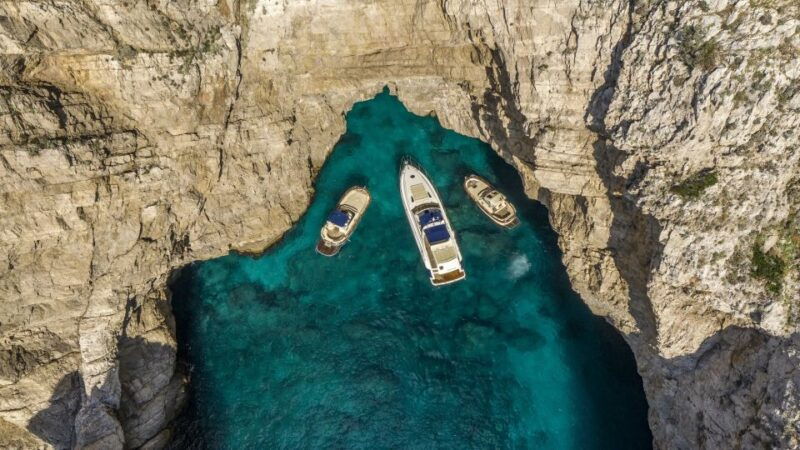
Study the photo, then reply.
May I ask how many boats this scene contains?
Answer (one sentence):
The number of boats here is 3.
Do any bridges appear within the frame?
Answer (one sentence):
No, I find no bridge anywhere in the image.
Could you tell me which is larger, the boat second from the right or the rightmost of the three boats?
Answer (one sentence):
The boat second from the right is larger than the rightmost of the three boats.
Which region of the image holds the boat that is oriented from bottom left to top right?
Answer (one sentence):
The boat that is oriented from bottom left to top right is in the center part of the image.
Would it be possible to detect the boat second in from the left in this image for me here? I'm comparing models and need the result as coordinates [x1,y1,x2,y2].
[402,156,465,290]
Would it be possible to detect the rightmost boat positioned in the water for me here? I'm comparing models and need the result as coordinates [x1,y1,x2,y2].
[463,174,520,230]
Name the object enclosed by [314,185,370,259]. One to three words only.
boat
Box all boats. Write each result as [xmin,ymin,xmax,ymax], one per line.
[463,174,520,230]
[402,156,465,290]
[314,185,370,259]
